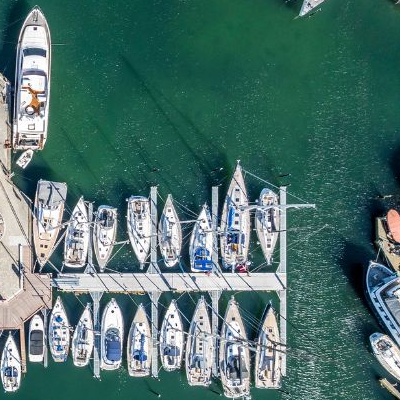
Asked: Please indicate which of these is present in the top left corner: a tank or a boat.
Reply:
boat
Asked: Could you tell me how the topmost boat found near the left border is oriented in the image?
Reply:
vertically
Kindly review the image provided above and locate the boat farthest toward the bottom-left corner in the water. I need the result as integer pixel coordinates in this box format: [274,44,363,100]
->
[0,333,23,392]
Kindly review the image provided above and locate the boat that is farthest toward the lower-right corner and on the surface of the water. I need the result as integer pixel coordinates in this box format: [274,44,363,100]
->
[367,333,400,380]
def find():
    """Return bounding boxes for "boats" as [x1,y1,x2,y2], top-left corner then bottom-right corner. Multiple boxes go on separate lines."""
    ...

[97,292,124,372]
[47,291,79,363]
[157,192,206,270]
[92,202,124,274]
[125,196,169,274]
[367,333,400,380]
[126,293,173,383]
[64,195,105,273]
[219,159,310,280]
[0,333,23,392]
[158,291,211,370]
[72,293,109,368]
[14,4,53,154]
[188,203,241,276]
[15,149,35,167]
[255,293,320,389]
[218,291,295,398]
[185,291,250,387]
[32,179,68,272]
[298,0,321,15]
[26,318,45,362]
[255,189,291,274]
